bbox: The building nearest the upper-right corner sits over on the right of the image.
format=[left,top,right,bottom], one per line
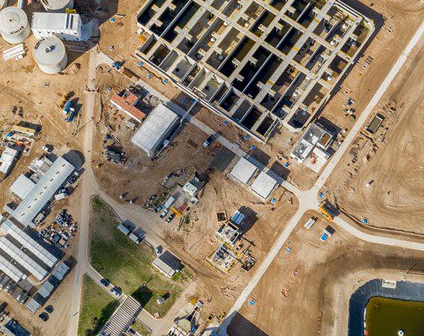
[292,123,334,166]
